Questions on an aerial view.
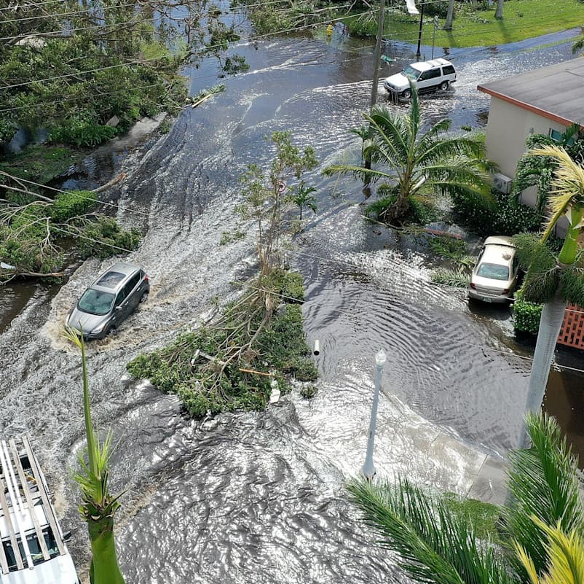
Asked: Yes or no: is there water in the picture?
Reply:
Yes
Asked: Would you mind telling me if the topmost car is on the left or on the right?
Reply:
right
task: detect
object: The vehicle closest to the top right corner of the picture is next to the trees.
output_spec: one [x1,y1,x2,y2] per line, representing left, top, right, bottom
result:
[380,52,463,98]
